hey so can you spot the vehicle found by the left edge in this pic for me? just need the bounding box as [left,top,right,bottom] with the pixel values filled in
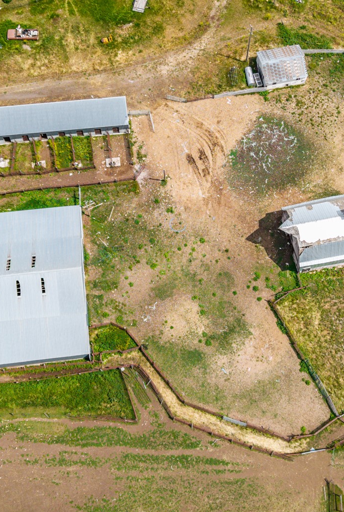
[7,24,40,42]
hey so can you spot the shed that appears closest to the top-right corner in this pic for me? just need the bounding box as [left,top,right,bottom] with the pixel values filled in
[250,42,307,93]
